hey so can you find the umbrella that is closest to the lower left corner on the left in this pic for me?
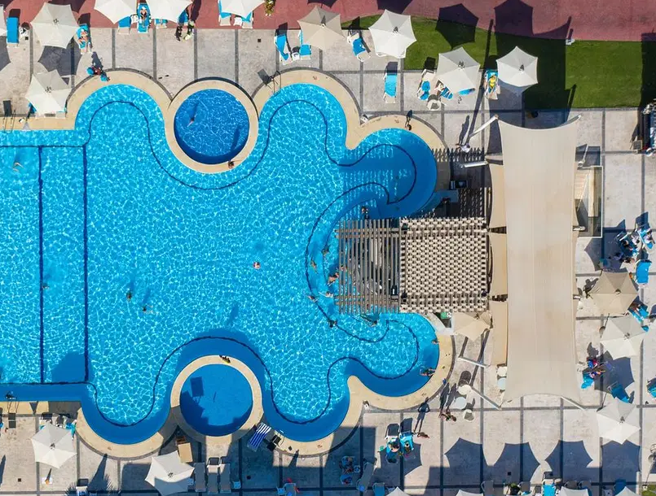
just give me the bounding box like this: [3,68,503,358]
[31,423,77,470]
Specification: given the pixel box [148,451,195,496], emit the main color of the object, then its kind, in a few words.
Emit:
white umbrella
